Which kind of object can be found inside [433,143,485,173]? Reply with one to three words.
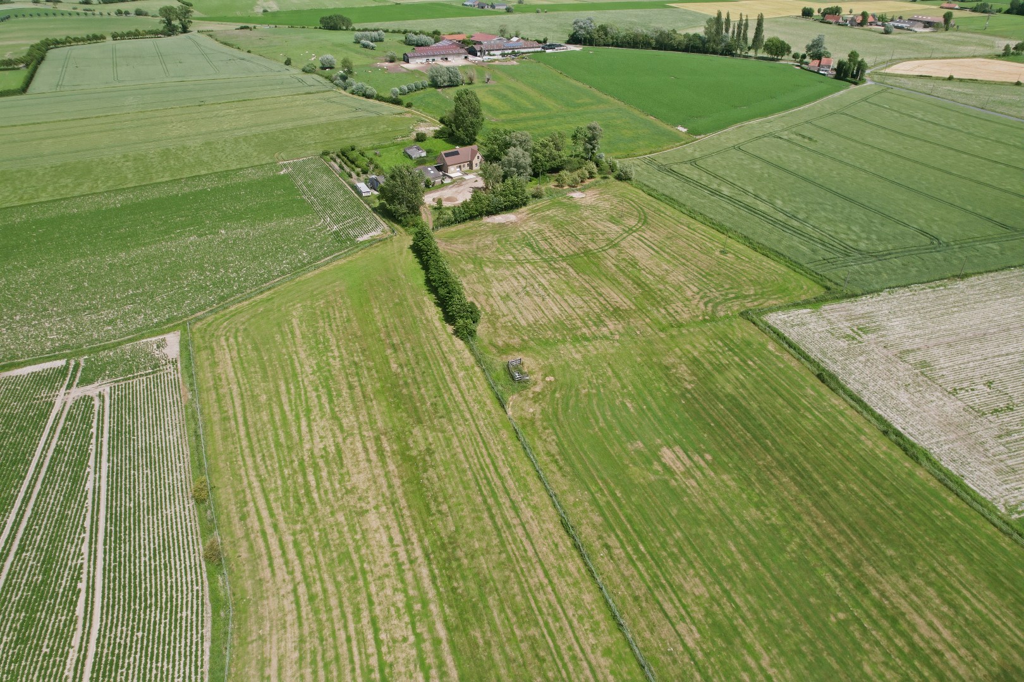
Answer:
house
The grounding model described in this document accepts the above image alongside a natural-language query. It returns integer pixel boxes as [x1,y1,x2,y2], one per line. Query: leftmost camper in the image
[355,180,370,194]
